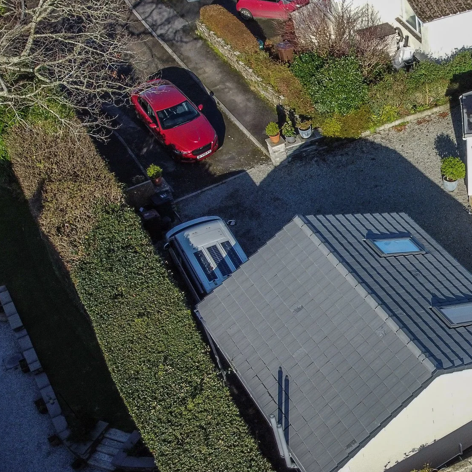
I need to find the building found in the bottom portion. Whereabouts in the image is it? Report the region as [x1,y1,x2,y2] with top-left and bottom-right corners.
[193,210,472,472]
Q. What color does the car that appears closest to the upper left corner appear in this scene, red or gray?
red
